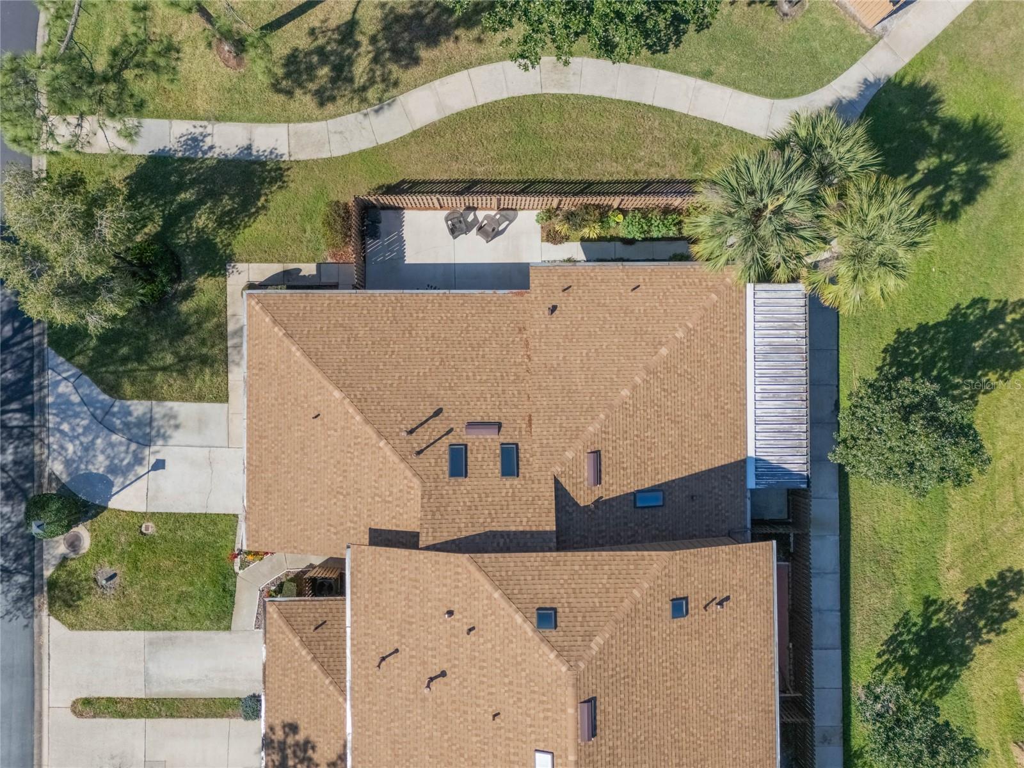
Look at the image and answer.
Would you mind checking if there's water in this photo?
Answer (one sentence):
No, the scene doesn't show any water.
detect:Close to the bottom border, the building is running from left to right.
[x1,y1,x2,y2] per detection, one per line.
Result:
[261,539,780,768]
